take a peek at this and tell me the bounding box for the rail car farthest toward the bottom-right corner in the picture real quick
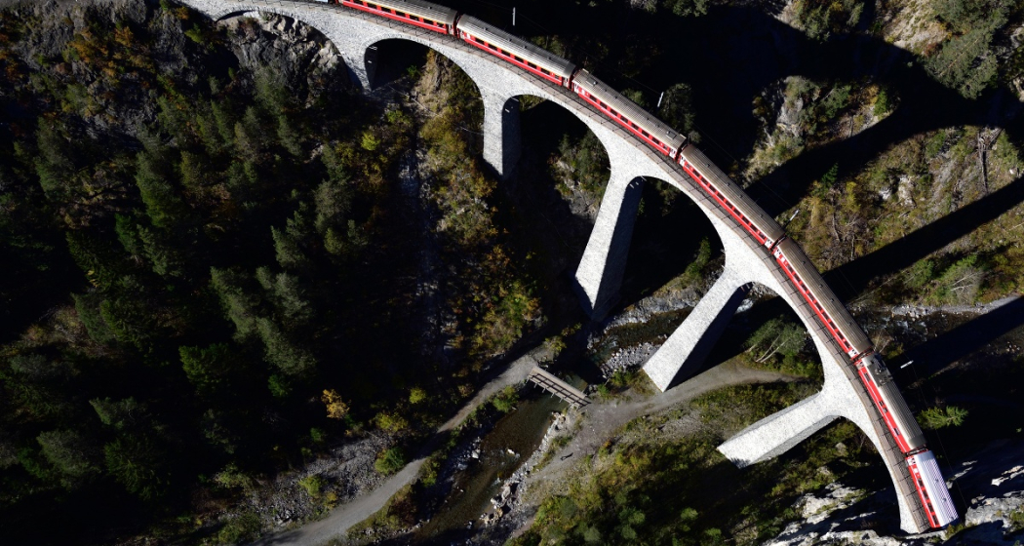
[904,452,960,532]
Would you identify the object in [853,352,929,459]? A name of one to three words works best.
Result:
rail car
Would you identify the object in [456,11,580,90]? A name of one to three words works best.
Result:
rail car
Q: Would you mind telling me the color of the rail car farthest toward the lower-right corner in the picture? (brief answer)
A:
white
